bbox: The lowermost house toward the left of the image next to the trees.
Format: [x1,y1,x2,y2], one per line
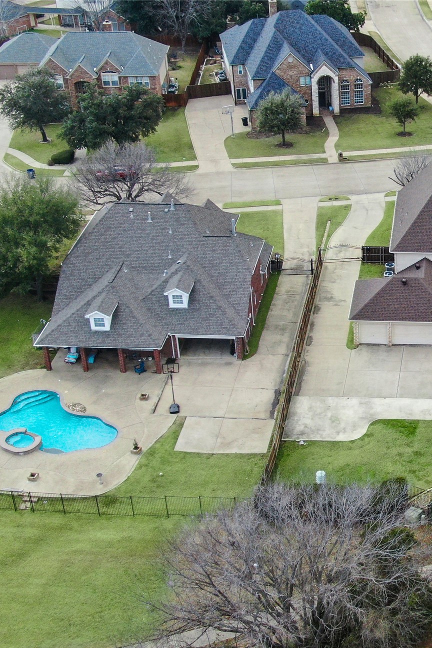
[31,189,277,373]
